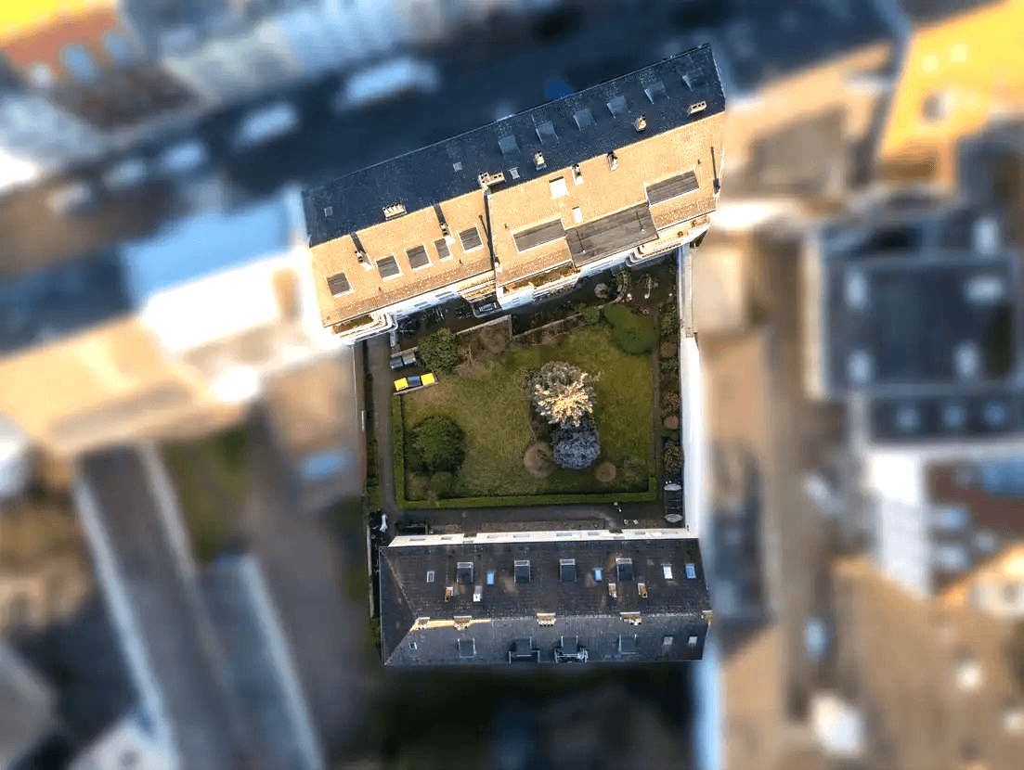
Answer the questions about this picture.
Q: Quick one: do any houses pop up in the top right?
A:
Yes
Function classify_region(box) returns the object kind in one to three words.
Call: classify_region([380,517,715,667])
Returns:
house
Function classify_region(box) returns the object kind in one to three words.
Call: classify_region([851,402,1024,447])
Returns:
building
